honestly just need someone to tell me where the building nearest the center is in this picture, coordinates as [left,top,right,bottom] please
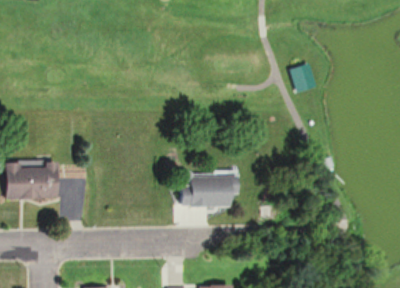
[180,166,240,208]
